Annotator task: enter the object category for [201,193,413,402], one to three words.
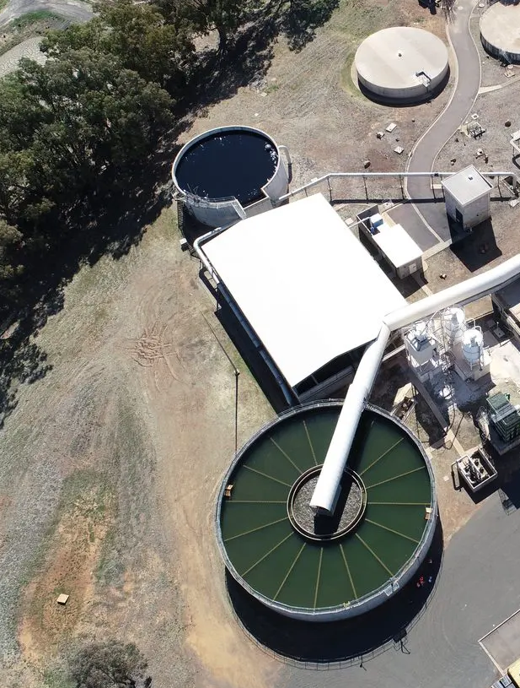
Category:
shed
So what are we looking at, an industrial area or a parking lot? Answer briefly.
industrial area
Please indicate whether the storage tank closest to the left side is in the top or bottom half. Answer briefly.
top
